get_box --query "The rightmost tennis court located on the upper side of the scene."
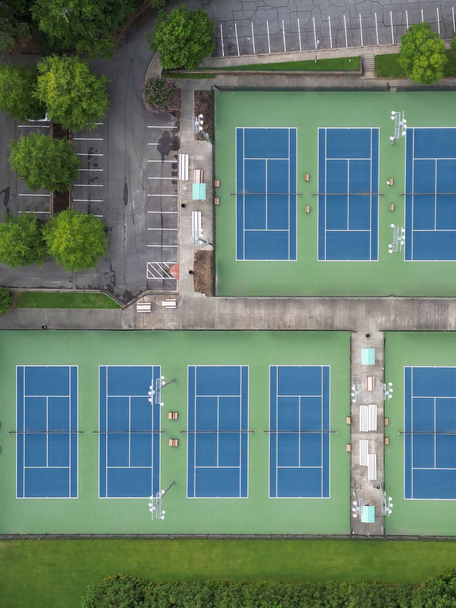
[399,127,456,261]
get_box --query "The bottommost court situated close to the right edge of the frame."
[397,366,456,500]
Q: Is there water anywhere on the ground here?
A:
No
